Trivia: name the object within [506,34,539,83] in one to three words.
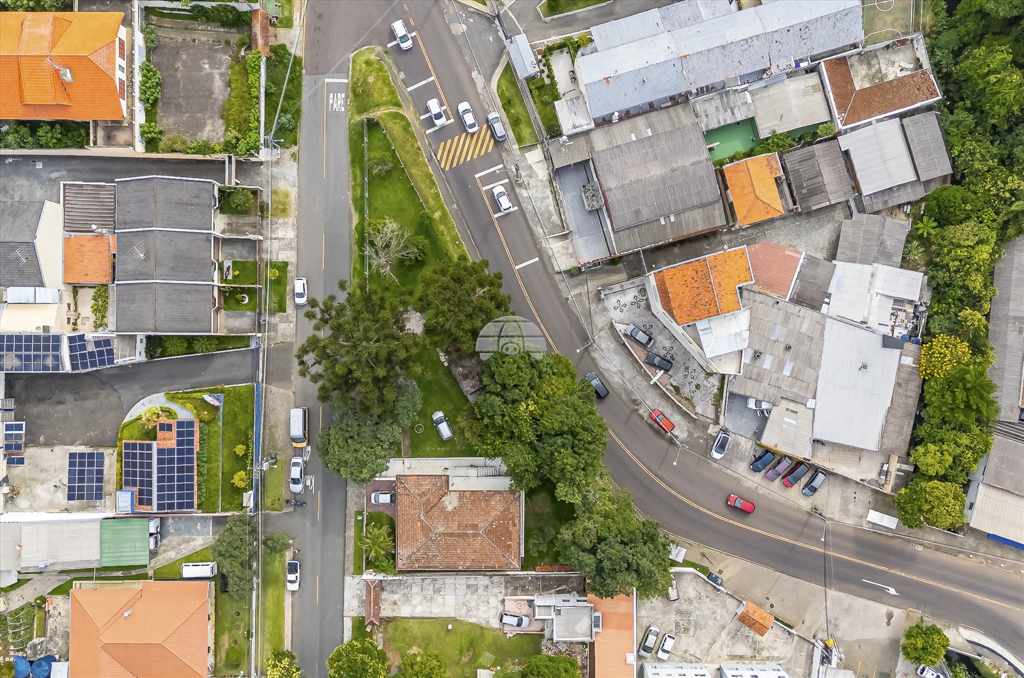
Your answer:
building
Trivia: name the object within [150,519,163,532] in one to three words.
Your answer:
vehicle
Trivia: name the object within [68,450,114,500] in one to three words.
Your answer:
solar array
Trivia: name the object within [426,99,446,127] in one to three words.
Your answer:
car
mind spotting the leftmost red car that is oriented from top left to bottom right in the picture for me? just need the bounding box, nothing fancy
[650,409,676,434]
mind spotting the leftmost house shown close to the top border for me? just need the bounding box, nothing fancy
[0,11,133,126]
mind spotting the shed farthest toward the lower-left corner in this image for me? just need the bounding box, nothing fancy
[27,634,46,660]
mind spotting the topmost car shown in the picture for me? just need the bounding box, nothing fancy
[392,21,412,49]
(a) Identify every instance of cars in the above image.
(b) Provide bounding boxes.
[645,352,675,374]
[711,430,730,458]
[293,277,308,307]
[487,111,507,141]
[392,21,412,49]
[640,626,660,657]
[766,456,792,481]
[458,102,480,133]
[728,494,756,514]
[432,410,453,441]
[656,633,676,661]
[150,535,161,547]
[500,611,530,629]
[492,184,514,215]
[802,469,829,496]
[746,399,770,414]
[371,491,396,505]
[426,99,446,127]
[290,459,305,490]
[150,519,163,532]
[650,409,676,434]
[667,573,681,601]
[750,450,776,474]
[585,372,611,399]
[625,324,655,349]
[782,463,811,489]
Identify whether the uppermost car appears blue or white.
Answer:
white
